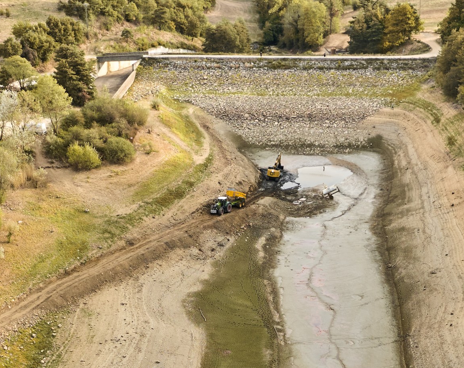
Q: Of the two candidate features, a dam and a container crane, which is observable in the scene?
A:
dam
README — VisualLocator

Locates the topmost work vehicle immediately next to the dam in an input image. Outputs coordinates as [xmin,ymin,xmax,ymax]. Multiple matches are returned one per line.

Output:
[267,148,285,182]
